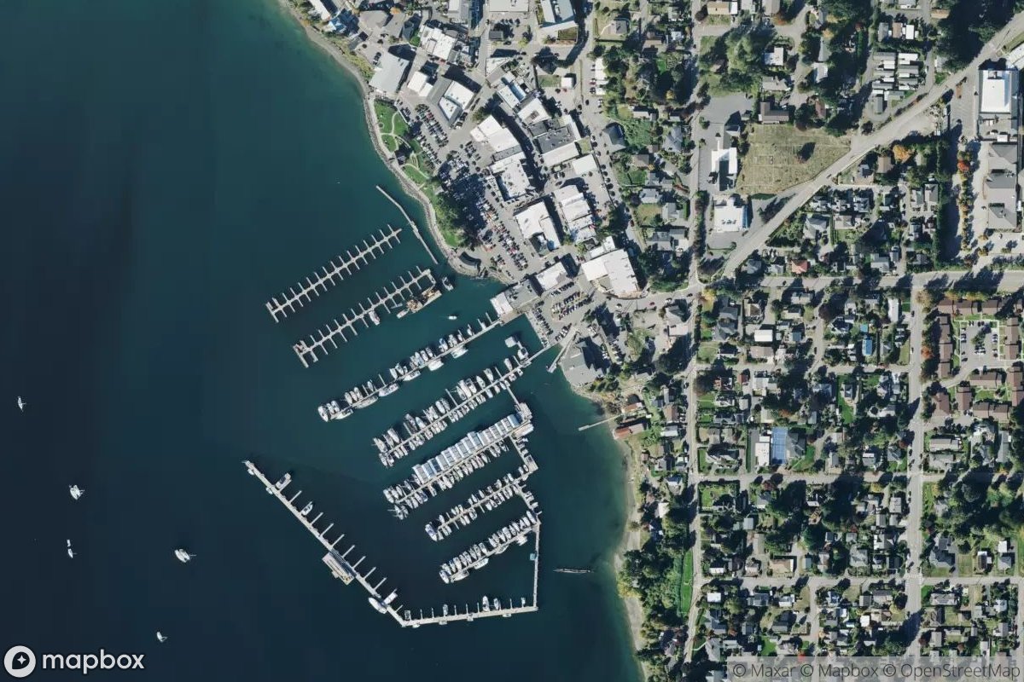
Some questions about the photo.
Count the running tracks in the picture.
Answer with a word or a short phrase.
0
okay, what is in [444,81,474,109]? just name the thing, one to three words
building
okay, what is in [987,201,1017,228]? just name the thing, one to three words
house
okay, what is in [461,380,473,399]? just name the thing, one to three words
boat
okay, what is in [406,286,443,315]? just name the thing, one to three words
ship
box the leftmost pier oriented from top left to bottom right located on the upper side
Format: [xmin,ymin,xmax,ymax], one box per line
[376,185,438,264]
